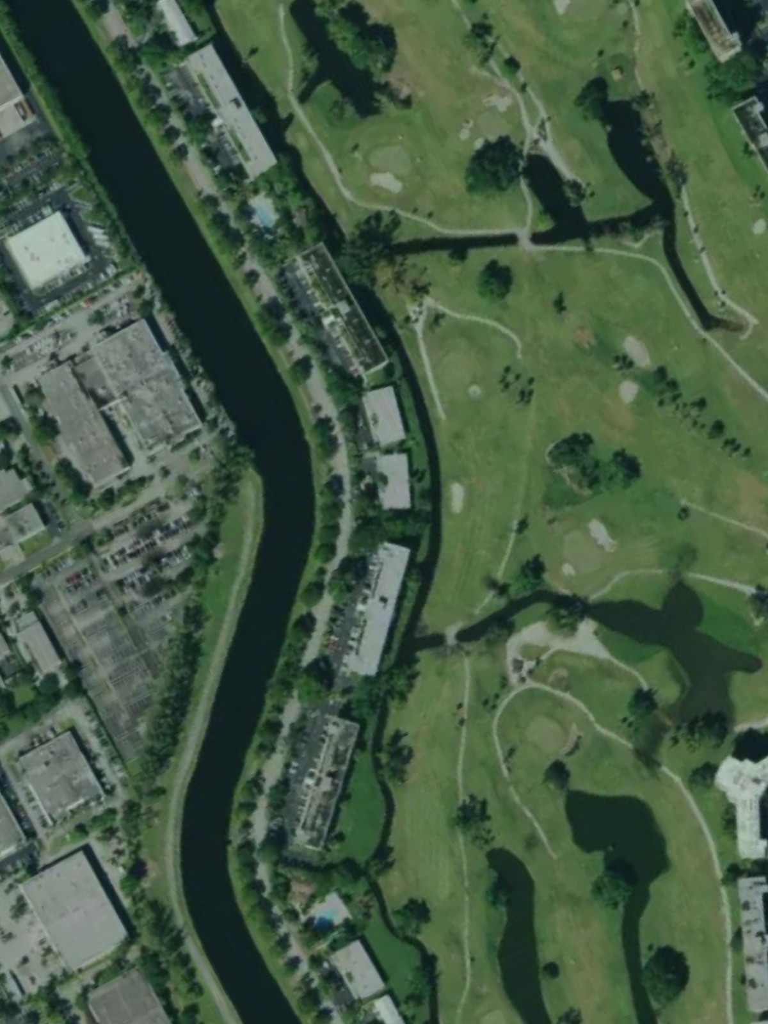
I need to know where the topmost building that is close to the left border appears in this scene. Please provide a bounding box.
[0,56,35,141]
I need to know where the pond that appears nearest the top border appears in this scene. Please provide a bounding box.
[293,0,380,117]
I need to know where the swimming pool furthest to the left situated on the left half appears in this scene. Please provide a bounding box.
[250,197,278,227]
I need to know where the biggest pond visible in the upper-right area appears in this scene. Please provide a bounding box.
[525,98,743,332]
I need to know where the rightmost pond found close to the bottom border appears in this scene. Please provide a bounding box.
[565,790,671,1024]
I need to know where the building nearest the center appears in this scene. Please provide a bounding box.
[376,453,411,510]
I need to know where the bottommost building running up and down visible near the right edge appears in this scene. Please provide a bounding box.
[736,875,768,1013]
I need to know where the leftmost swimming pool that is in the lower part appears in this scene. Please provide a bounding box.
[307,892,352,931]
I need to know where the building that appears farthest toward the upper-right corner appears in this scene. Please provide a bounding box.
[681,0,741,67]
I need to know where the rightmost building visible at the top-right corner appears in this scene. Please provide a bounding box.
[729,98,768,184]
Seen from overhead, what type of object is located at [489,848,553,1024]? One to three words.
pond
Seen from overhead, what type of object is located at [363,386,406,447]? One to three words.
building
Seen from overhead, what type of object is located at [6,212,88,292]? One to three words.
building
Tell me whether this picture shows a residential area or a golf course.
golf course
